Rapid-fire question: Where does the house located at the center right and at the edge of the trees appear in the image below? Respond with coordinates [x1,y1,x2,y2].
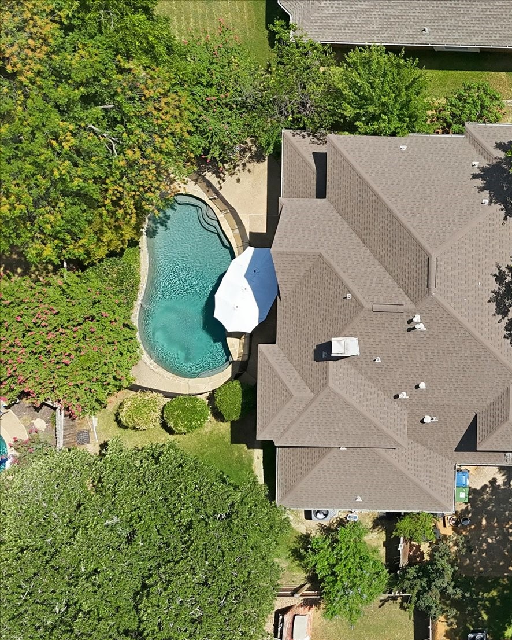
[254,122,512,514]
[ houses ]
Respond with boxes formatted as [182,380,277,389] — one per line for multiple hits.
[280,0,512,60]
[254,122,512,514]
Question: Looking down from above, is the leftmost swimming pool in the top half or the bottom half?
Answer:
bottom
